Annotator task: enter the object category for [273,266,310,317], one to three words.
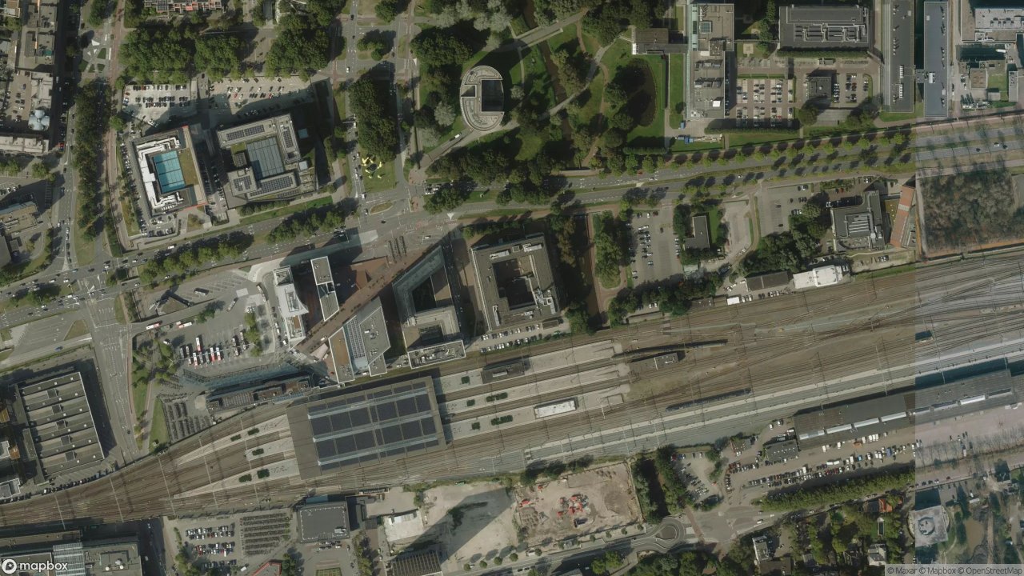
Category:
building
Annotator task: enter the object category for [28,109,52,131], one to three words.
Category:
building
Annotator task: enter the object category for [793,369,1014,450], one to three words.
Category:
shed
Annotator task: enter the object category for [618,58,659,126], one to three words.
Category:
pond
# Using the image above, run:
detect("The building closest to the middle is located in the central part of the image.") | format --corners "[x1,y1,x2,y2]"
[472,233,560,331]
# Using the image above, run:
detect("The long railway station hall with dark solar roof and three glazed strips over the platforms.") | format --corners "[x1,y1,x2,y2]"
[177,340,630,499]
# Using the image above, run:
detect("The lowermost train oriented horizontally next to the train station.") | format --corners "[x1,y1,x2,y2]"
[667,389,752,411]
